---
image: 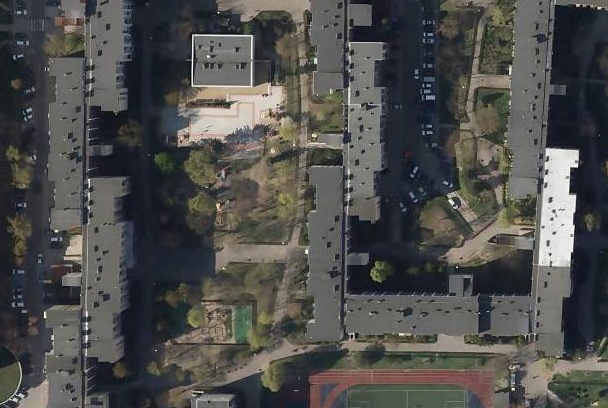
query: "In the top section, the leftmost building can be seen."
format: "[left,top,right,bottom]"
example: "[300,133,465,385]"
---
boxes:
[48,57,84,232]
